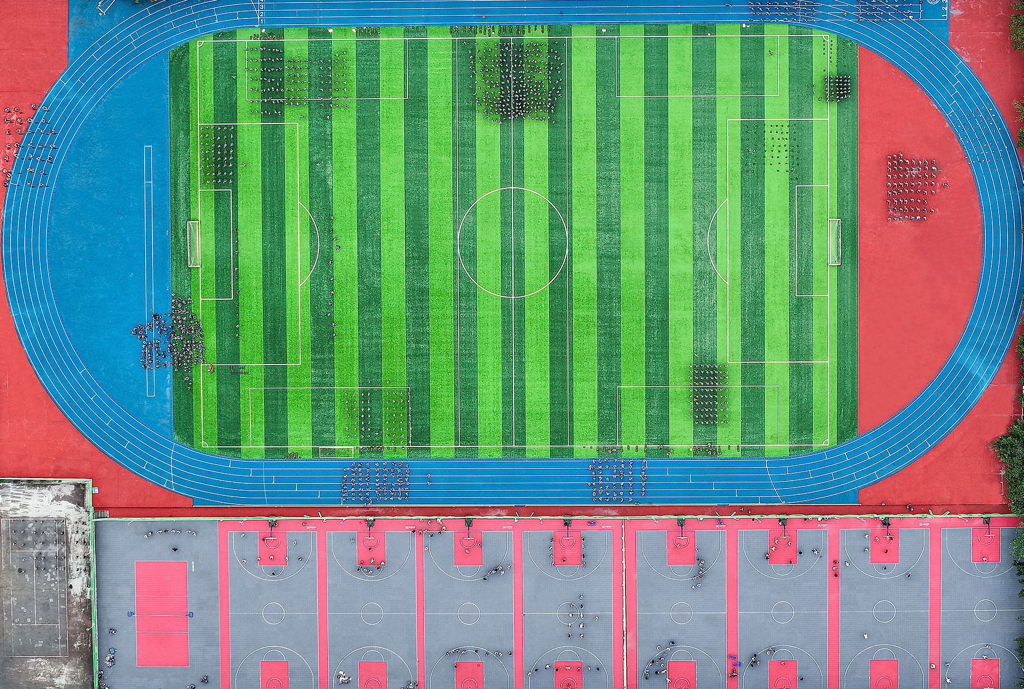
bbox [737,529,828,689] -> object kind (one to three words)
basketball court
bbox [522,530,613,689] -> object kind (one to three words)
basketball court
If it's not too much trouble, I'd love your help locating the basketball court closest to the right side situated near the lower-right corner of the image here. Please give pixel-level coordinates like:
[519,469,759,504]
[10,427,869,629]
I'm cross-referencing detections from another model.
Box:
[940,528,1024,689]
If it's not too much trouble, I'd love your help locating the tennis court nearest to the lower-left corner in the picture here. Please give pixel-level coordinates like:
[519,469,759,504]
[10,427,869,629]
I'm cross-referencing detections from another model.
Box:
[2,519,68,657]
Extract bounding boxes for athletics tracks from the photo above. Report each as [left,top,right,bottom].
[3,0,1024,506]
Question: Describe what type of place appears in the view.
sports ground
